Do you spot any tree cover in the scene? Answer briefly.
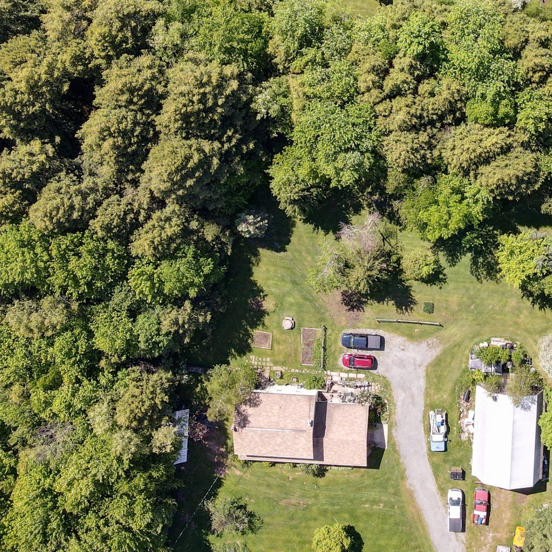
Yes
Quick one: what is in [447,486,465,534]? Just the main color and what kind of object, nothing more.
white vehicle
